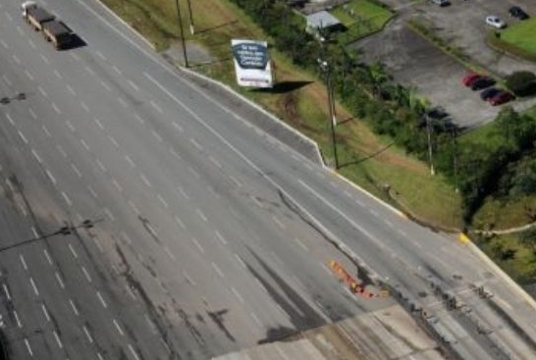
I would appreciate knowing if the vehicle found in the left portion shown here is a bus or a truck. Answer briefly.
truck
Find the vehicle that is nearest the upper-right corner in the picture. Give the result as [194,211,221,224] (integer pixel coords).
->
[507,8,529,22]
